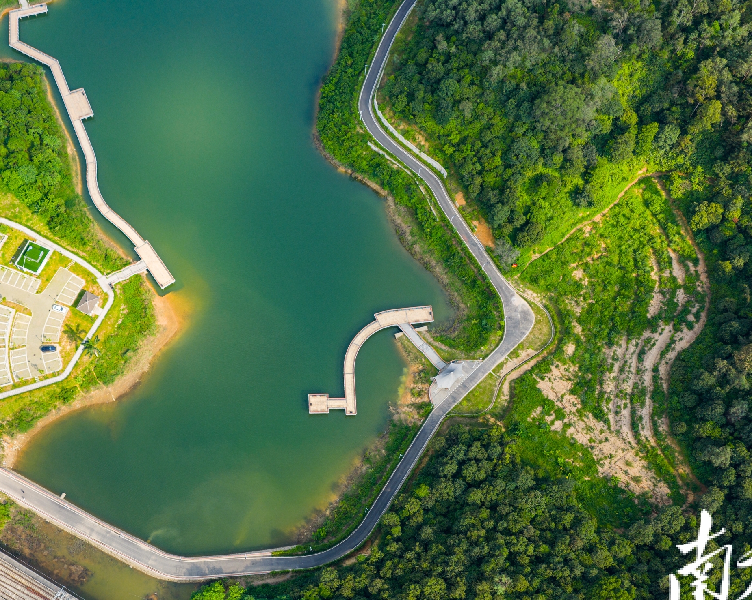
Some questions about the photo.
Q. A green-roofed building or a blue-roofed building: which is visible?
green-roofed building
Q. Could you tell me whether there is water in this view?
Yes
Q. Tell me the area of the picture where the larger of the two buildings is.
left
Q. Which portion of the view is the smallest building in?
left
